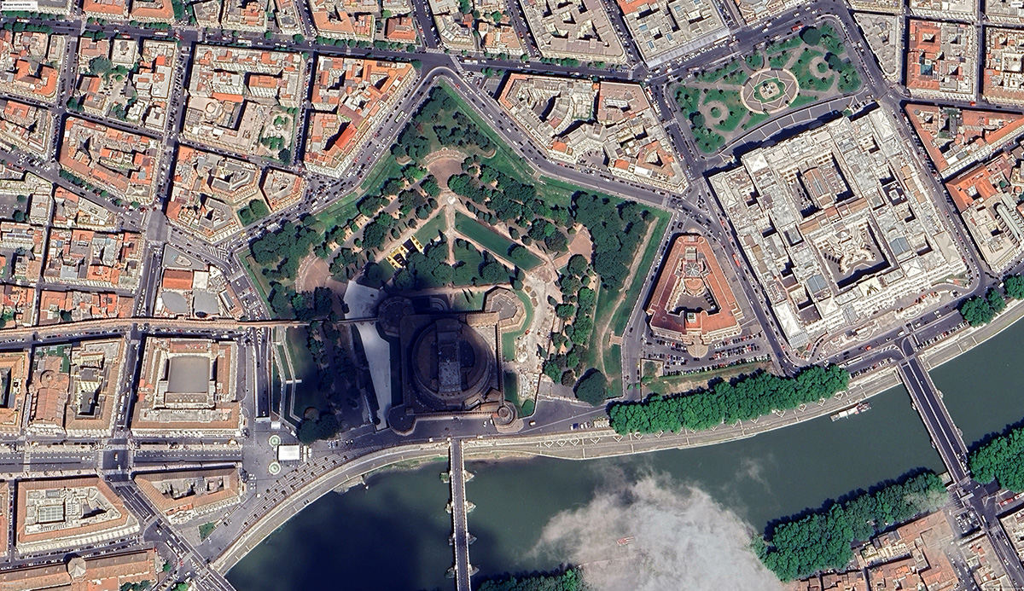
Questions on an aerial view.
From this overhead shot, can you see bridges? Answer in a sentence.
Yes, I can see a bridge in this picture.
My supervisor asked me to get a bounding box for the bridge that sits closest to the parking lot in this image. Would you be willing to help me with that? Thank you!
[895,357,972,487]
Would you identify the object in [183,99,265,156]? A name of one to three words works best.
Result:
building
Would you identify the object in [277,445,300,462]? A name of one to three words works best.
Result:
tent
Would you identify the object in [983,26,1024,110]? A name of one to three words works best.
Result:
building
